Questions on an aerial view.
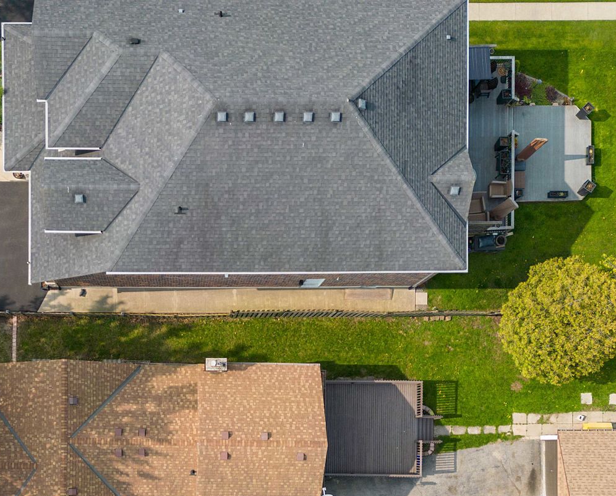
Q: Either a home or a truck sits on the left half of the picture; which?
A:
home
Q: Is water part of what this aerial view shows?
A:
No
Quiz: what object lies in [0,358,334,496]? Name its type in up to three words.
house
